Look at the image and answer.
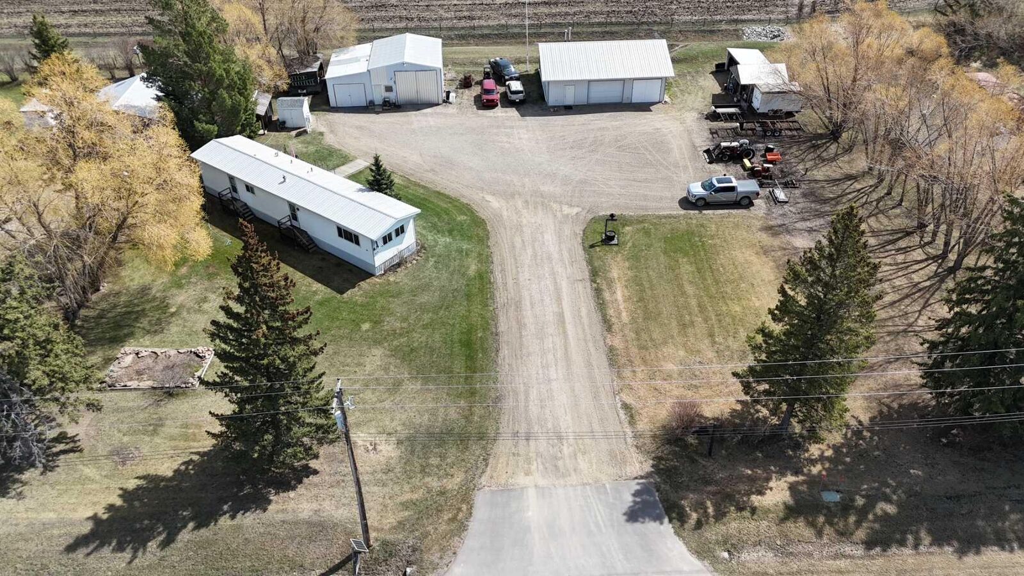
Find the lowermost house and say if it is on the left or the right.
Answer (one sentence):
The lowermost house is on the left side of the image.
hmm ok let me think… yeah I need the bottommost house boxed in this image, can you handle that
[188,138,421,275]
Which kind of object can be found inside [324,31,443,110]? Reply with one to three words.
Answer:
building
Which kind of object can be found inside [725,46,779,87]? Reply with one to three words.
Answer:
shed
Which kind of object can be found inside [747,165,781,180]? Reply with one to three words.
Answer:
work vehicle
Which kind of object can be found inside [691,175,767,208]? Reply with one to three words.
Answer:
truck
